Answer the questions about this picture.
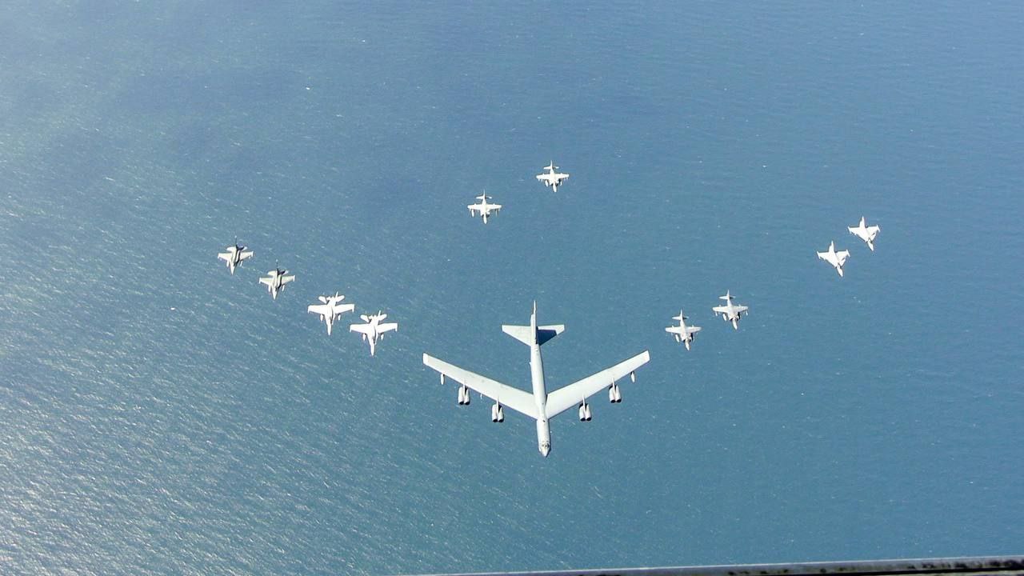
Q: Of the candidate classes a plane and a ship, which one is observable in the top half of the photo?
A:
plane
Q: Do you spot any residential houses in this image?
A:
No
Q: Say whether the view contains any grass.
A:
No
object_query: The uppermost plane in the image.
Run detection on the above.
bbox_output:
[537,161,568,193]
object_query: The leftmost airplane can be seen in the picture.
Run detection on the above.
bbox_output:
[218,236,253,274]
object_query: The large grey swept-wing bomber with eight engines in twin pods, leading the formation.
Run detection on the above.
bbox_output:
[424,300,649,459]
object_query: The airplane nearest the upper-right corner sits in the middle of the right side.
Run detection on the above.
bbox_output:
[849,216,879,250]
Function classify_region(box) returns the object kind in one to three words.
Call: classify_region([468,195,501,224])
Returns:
airplane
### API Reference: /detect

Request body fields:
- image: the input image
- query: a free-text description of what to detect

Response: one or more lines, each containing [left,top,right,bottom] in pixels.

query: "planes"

[424,300,649,459]
[817,240,849,276]
[218,236,253,274]
[849,216,879,250]
[713,290,748,329]
[350,309,396,356]
[537,161,568,193]
[666,311,701,350]
[468,195,501,224]
[259,260,294,299]
[308,290,353,335]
